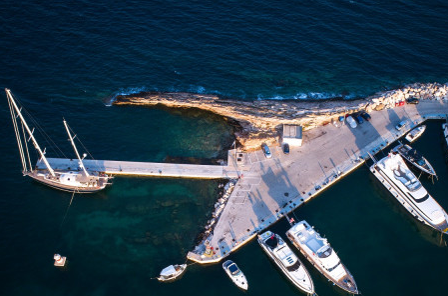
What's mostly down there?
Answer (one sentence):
What you mostly see from above here is water.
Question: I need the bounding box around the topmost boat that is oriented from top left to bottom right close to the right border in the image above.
[388,134,439,183]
